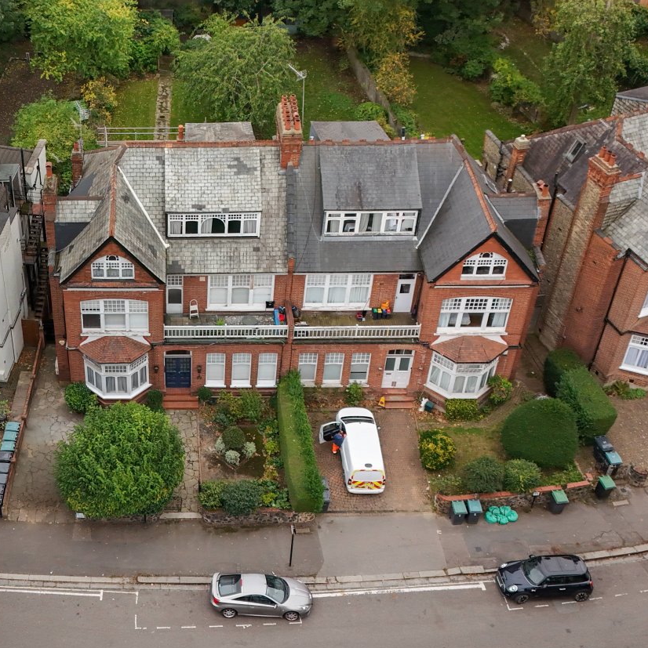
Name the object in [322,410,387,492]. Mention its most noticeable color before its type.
white van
